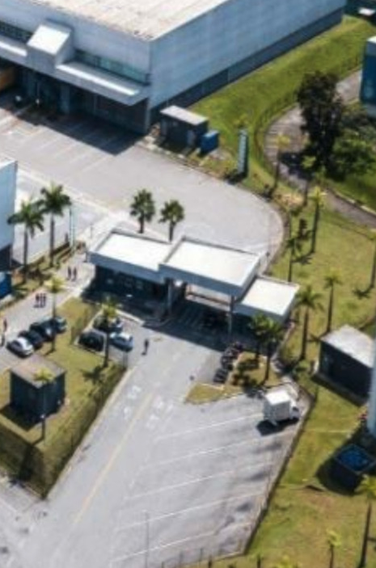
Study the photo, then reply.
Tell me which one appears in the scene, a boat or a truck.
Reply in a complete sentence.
Of the two, only a truck appears.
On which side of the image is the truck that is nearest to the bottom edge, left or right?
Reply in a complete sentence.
The truck that is nearest to the bottom edge appears in the right half of the scene.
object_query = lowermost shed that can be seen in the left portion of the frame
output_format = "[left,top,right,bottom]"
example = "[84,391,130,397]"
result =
[10,355,66,420]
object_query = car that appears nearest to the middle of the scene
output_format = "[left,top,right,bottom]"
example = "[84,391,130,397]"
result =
[208,311,223,331]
